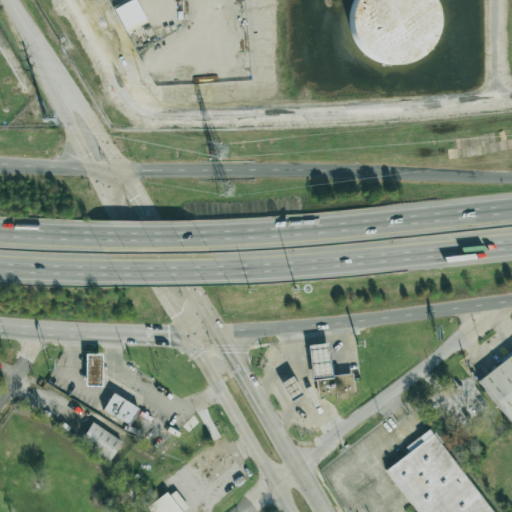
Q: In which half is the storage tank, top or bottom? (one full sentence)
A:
The top half of the photo is where the storage tank is.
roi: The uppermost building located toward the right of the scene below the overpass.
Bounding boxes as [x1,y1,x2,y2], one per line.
[309,343,334,380]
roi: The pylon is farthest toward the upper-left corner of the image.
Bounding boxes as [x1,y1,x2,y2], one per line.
[210,142,228,166]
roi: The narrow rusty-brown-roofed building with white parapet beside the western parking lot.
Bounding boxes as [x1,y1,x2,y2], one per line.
[86,354,104,386]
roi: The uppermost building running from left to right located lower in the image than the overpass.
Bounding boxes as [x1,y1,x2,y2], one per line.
[316,374,356,396]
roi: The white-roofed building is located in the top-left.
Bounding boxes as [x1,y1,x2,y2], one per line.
[116,0,147,32]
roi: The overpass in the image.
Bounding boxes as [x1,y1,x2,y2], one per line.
[0,192,512,286]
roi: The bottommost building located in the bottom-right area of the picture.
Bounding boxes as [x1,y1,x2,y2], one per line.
[385,433,494,512]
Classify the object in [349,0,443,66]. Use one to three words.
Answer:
storage tank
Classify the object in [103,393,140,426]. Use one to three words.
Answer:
building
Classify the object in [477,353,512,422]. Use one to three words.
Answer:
building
